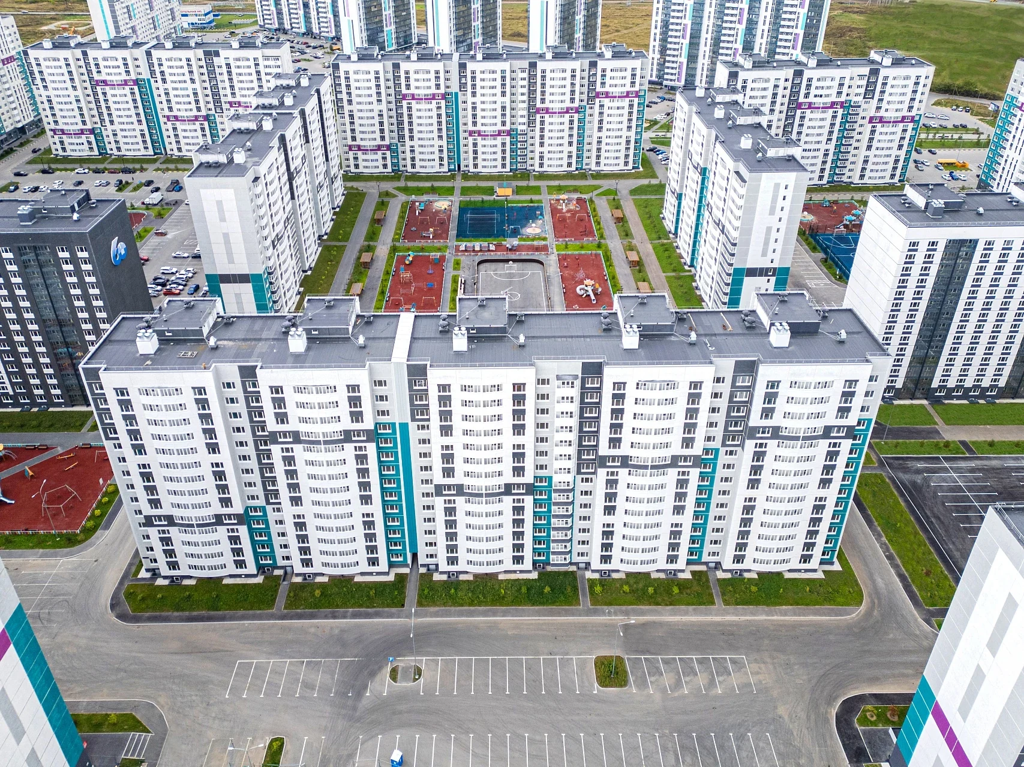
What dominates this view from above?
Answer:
buildings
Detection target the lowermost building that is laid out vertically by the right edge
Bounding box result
[900,501,1024,767]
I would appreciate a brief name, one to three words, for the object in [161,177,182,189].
vehicle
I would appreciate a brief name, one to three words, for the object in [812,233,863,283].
sports court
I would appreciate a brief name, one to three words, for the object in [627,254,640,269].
gazebo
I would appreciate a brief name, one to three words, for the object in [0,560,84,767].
building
